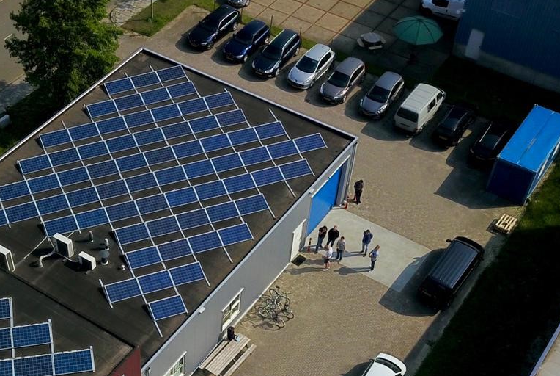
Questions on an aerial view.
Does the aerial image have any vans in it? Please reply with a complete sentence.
Yes, a van is visible in the scene.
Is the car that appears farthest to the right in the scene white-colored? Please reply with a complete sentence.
No, from above the car that appears farthest to the right looks black.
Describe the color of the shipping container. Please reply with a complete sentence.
From above, the shipping container appears blue.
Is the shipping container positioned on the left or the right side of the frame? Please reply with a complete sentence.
The shipping container appears in the right half of the scene.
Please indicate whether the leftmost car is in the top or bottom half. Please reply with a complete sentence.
It is in the top half that the leftmost car appears.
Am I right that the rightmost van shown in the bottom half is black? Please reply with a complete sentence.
Yes, black is the color of the rightmost van shown in the bottom half.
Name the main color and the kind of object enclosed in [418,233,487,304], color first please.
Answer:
black van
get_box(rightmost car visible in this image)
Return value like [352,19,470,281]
[473,113,522,167]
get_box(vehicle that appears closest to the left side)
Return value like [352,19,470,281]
[186,6,237,52]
